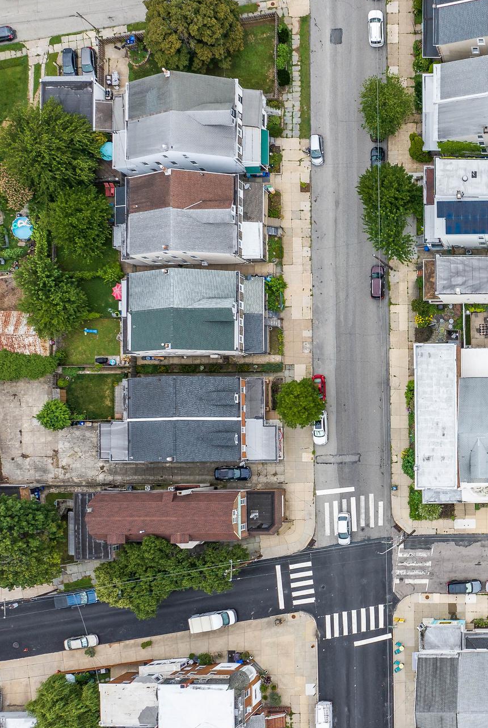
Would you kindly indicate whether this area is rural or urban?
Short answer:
urban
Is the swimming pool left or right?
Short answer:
left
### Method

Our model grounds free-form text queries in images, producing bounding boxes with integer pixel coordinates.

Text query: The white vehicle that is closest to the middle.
[311,410,329,445]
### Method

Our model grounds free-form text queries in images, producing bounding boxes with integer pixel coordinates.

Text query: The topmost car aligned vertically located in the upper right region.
[367,9,385,47]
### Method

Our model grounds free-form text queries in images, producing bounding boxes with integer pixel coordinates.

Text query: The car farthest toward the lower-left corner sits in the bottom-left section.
[64,633,100,651]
